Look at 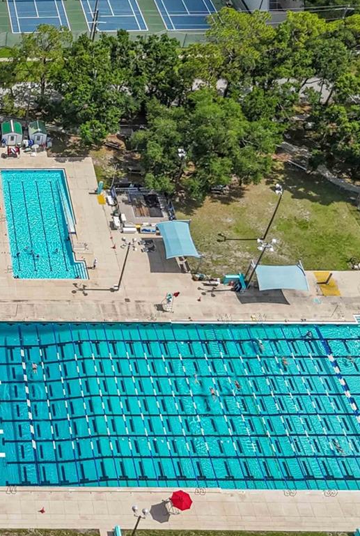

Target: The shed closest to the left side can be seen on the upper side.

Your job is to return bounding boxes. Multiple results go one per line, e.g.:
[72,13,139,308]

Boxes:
[1,114,24,145]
